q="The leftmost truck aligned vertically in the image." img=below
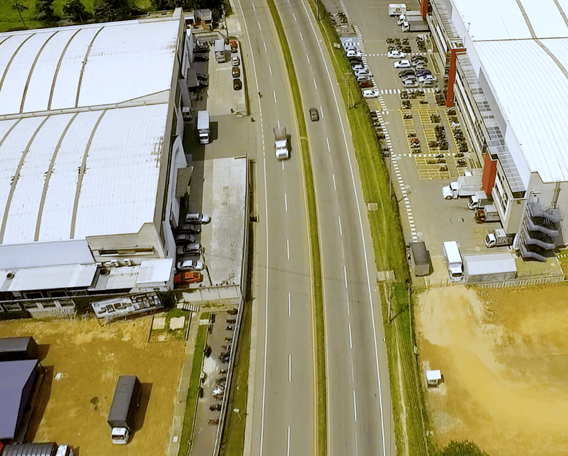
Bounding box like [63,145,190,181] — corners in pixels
[105,376,145,446]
